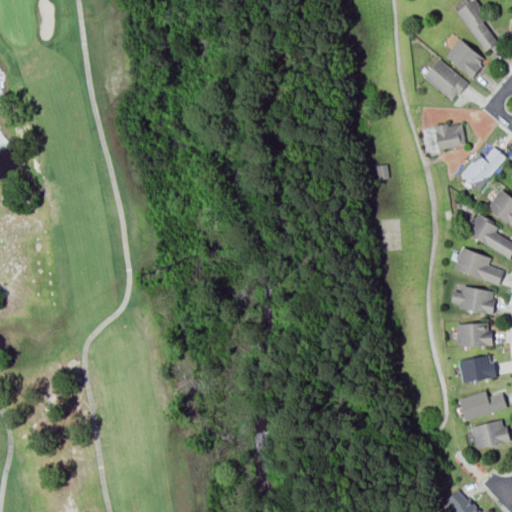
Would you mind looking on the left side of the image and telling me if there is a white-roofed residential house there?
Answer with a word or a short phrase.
No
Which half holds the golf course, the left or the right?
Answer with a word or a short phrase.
left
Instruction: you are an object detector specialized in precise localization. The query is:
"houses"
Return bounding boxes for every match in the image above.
[488,190,512,232]
[470,420,510,448]
[450,286,496,316]
[446,38,488,78]
[456,246,506,285]
[442,489,480,512]
[458,323,494,347]
[425,58,470,101]
[459,149,508,188]
[452,0,498,52]
[458,392,510,422]
[470,214,512,261]
[460,358,499,384]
